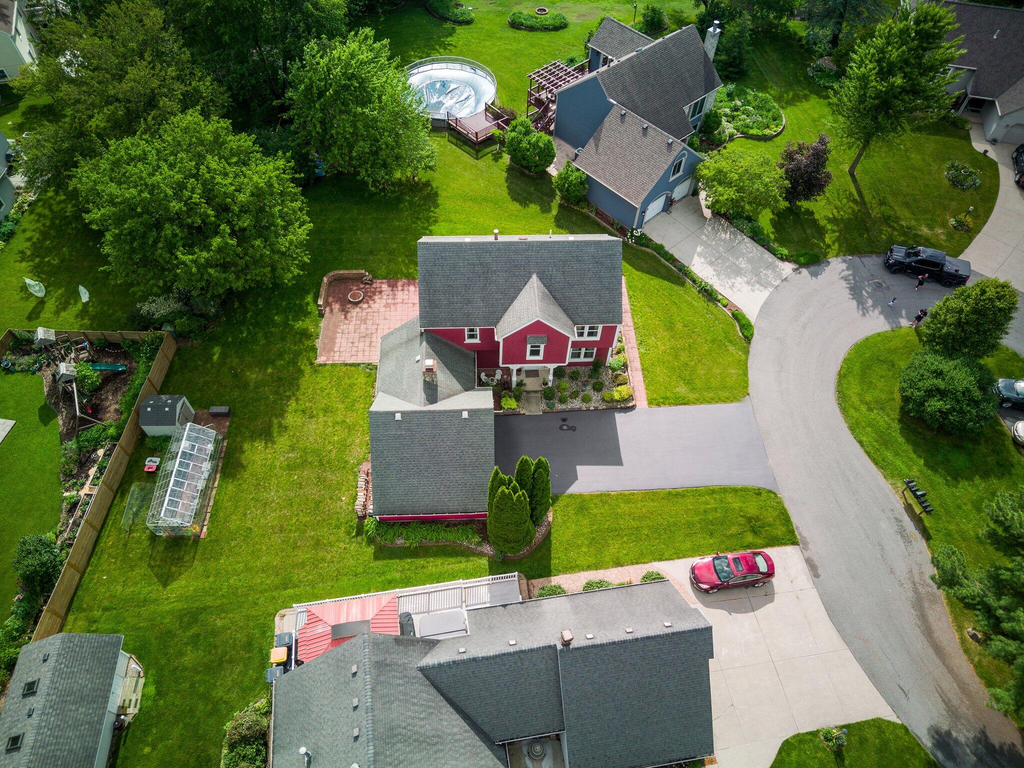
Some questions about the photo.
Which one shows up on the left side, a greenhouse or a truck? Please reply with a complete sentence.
What appears on the left side is a greenhouse.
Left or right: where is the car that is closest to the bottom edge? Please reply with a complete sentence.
The car that is closest to the bottom edge is on the right side of the image.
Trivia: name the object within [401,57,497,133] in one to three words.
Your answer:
swimming pool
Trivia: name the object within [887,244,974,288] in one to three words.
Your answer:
truck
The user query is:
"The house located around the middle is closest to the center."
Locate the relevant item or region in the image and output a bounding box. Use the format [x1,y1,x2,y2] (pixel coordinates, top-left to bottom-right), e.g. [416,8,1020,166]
[370,229,623,524]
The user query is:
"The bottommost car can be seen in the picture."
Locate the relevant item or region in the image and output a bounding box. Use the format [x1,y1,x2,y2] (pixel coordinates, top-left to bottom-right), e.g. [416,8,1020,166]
[691,552,780,594]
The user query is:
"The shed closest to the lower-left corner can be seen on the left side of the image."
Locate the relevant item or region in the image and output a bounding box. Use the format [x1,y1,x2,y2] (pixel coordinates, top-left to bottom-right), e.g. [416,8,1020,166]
[0,633,130,768]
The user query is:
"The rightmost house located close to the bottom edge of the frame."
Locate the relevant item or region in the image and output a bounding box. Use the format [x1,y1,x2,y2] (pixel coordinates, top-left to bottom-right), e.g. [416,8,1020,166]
[270,579,714,768]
